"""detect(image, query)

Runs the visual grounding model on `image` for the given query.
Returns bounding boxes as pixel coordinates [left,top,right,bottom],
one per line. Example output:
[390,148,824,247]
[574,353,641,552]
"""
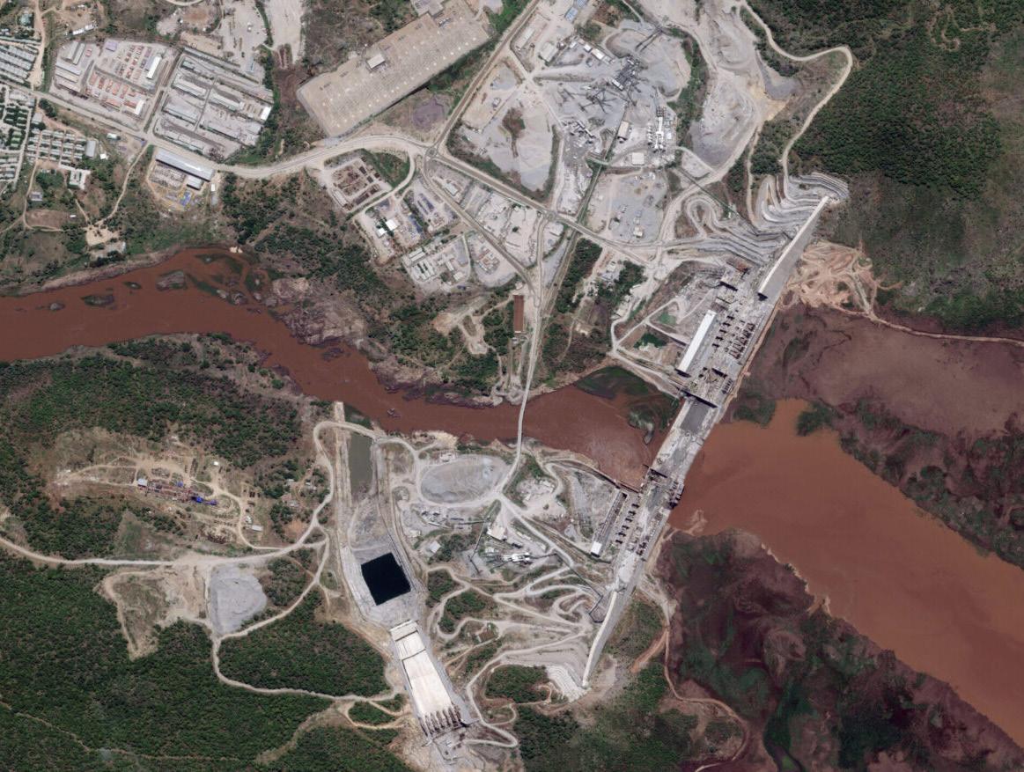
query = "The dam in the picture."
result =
[583,195,830,689]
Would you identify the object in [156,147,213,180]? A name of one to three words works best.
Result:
building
